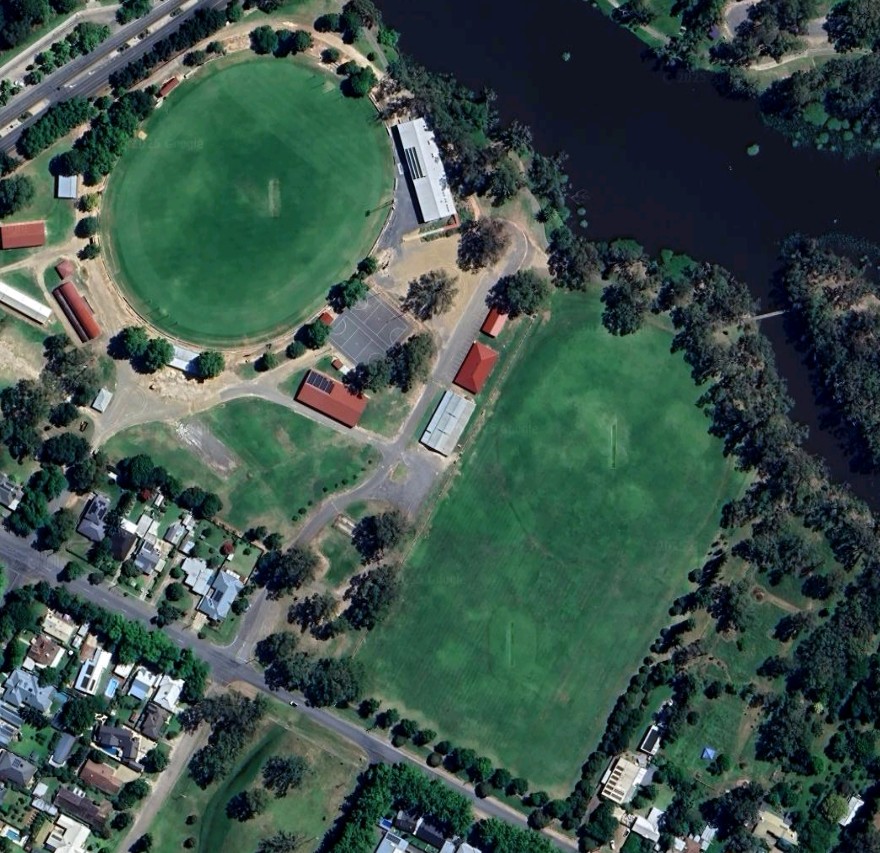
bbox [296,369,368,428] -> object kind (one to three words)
building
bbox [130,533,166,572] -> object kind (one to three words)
house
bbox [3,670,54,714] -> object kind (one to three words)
house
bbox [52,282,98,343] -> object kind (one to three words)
shed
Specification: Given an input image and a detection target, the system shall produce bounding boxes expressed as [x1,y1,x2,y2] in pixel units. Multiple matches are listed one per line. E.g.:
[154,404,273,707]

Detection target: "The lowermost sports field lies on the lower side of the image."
[360,292,742,795]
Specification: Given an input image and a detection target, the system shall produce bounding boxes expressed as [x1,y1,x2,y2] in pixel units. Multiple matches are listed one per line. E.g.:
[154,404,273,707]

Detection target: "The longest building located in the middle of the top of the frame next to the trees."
[397,116,455,222]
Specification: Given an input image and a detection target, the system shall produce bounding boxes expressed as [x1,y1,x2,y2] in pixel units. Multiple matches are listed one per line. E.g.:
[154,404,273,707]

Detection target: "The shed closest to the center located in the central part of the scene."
[422,390,476,459]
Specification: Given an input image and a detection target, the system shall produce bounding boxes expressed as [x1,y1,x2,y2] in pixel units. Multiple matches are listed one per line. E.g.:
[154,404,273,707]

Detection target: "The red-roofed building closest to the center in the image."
[454,341,498,395]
